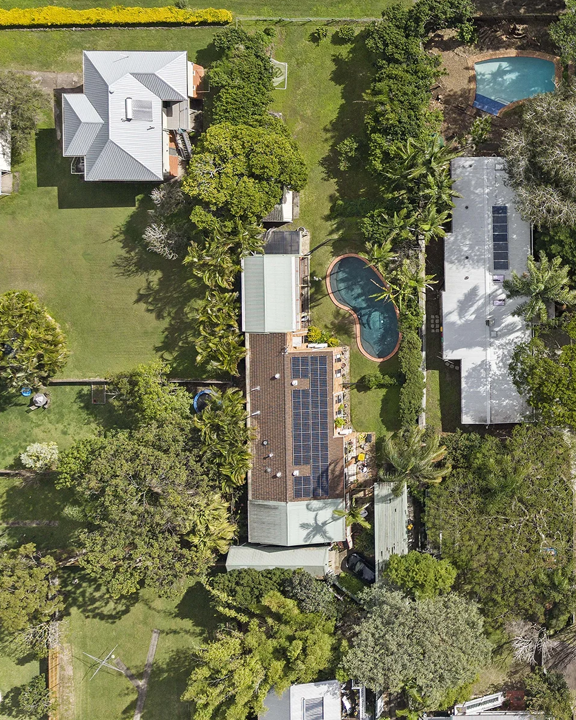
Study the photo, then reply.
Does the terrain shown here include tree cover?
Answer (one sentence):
Yes, there's tree cover in this view.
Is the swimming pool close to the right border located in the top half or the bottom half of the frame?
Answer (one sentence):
You can find the swimming pool close to the right border in the top half.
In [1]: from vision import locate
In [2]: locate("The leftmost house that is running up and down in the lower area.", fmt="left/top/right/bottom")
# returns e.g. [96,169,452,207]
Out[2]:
[247,330,354,552]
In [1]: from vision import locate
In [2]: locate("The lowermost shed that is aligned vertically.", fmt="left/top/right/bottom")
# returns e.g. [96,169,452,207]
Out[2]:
[373,483,408,582]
